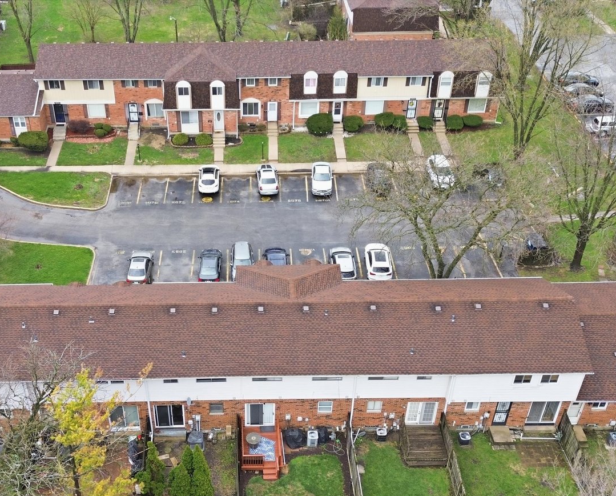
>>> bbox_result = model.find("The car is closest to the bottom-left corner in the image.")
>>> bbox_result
[126,246,154,283]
